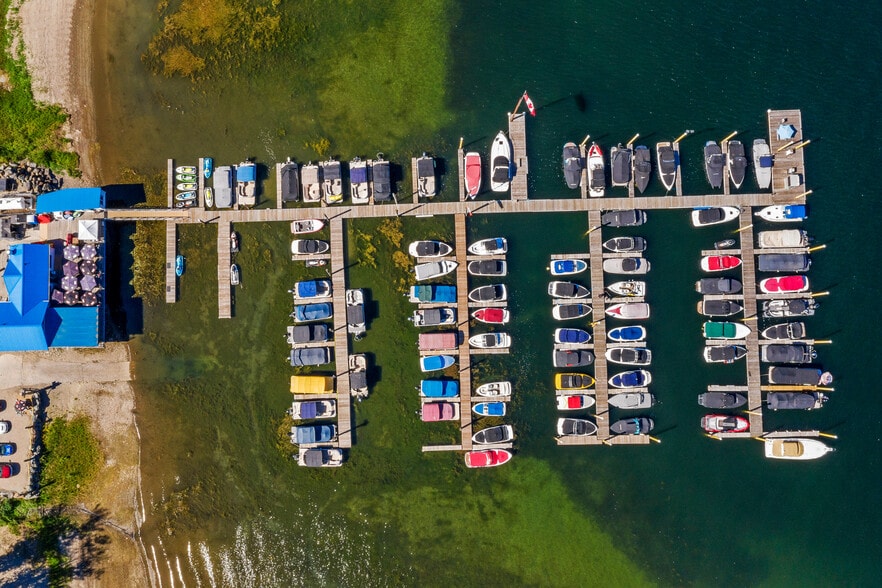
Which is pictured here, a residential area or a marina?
marina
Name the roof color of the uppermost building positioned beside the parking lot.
blue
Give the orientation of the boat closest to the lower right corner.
from side to side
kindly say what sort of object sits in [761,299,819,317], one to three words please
boat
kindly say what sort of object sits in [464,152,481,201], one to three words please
boat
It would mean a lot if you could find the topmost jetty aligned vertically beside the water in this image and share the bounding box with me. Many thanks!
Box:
[768,110,806,205]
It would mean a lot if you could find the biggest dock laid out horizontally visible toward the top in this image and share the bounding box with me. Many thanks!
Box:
[167,114,771,224]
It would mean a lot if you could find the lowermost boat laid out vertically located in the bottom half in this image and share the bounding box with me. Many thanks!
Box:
[349,353,368,400]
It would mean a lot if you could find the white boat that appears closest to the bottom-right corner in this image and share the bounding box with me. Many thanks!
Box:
[764,437,836,461]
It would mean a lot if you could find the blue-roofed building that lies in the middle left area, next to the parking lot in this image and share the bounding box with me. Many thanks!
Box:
[0,244,100,350]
